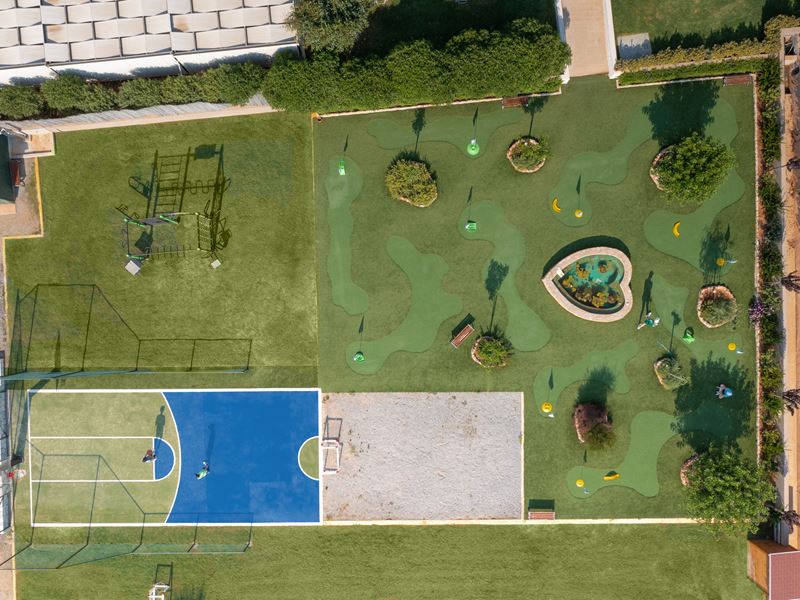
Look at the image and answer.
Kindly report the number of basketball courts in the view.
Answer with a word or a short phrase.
1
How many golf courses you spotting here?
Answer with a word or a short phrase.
one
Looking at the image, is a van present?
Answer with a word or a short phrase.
No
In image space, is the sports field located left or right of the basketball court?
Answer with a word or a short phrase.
on the right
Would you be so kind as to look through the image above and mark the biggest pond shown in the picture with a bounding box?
[541,247,634,322]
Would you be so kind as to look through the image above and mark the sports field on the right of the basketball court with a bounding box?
[323,391,525,520]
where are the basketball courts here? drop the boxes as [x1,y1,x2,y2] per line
[27,388,322,526]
